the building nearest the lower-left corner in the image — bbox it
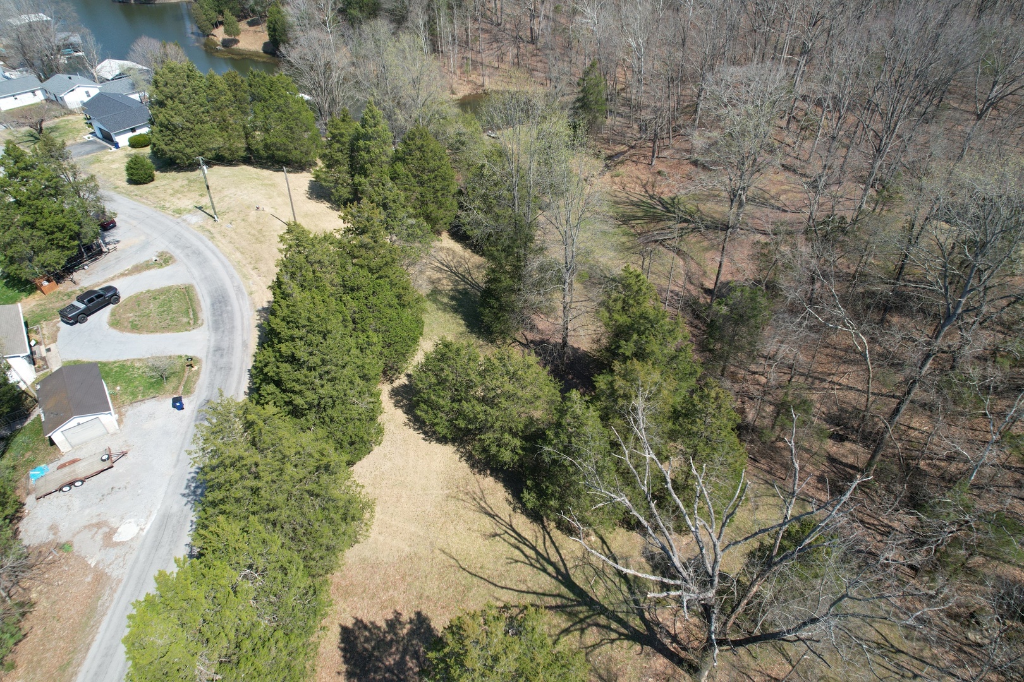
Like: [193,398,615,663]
[32,362,121,452]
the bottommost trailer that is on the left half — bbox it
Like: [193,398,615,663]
[33,447,131,499]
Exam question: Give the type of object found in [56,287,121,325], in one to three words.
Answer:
truck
